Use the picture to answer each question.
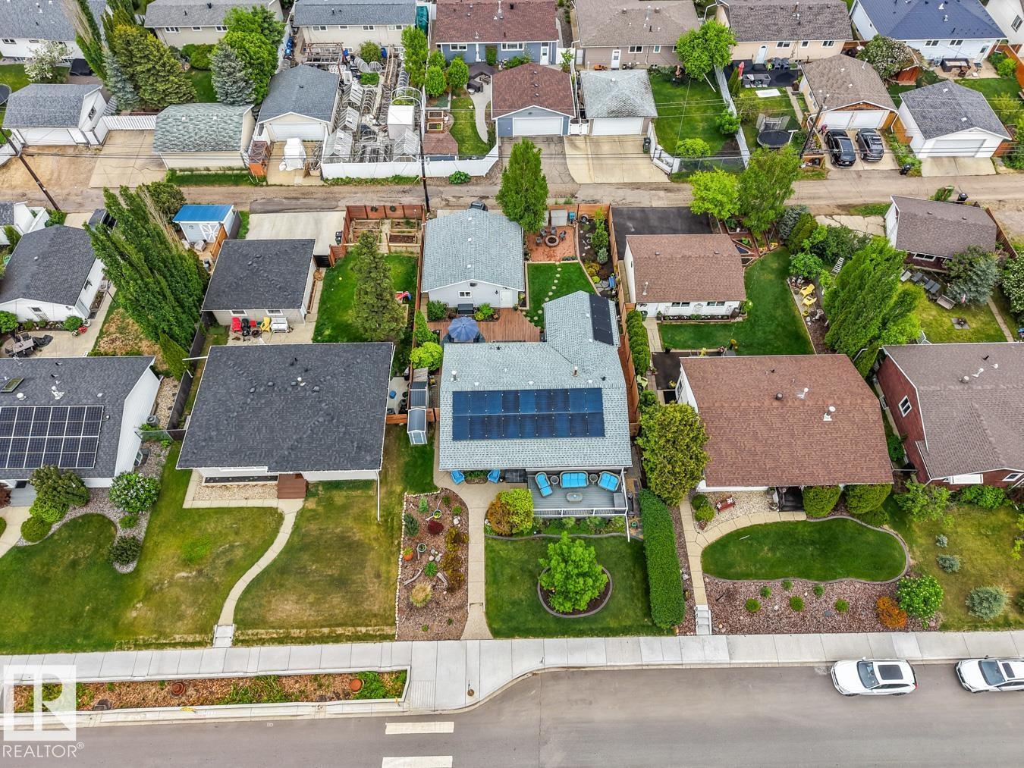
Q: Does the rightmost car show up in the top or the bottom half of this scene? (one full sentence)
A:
Seen from above, the rightmost car lies in the bottom half of the view.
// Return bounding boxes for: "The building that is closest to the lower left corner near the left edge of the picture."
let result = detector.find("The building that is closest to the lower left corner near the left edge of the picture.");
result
[0,354,168,509]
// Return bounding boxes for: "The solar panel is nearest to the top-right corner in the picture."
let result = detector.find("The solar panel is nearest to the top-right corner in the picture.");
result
[592,296,612,345]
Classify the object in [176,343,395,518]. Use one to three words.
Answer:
house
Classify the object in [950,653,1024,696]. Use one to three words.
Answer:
car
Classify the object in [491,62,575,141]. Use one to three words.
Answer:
building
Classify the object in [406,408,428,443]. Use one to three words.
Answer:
greenhouse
